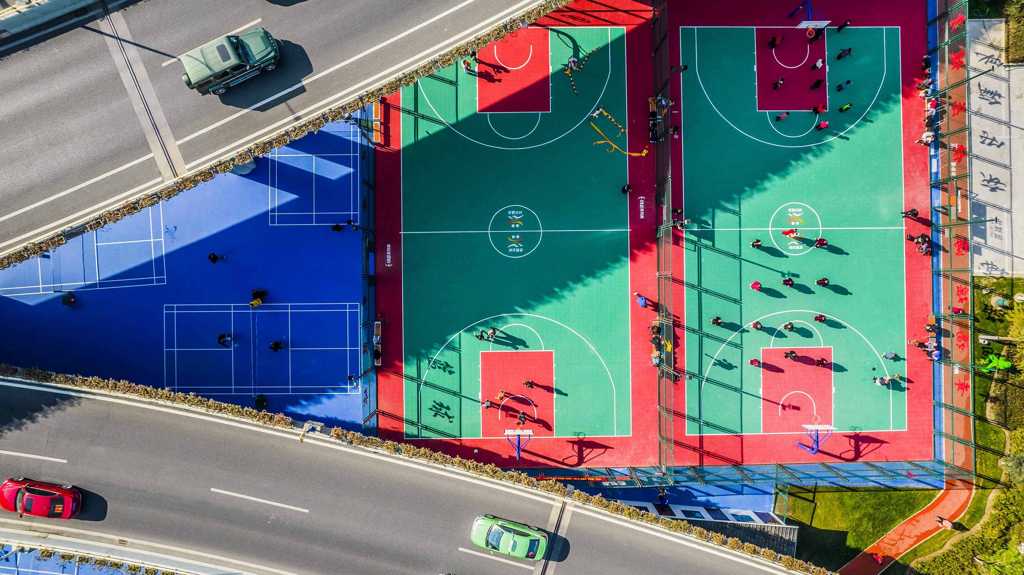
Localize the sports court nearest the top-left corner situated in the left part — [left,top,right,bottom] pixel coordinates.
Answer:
[0,206,166,297]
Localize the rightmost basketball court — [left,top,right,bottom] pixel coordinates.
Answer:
[655,0,934,466]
